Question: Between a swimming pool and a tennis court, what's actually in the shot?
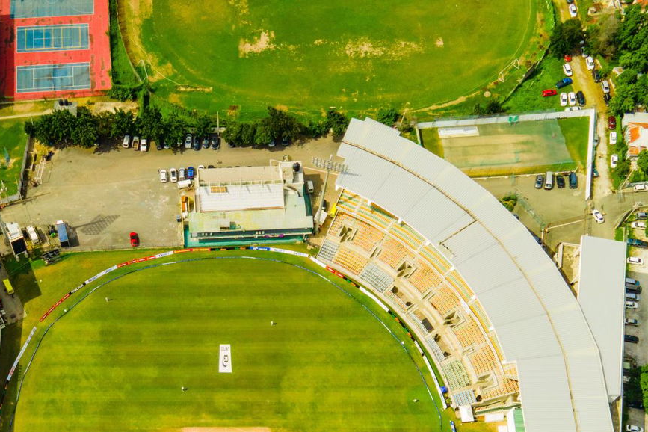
tennis court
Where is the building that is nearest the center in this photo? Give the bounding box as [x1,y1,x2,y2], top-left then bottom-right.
[184,160,313,255]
